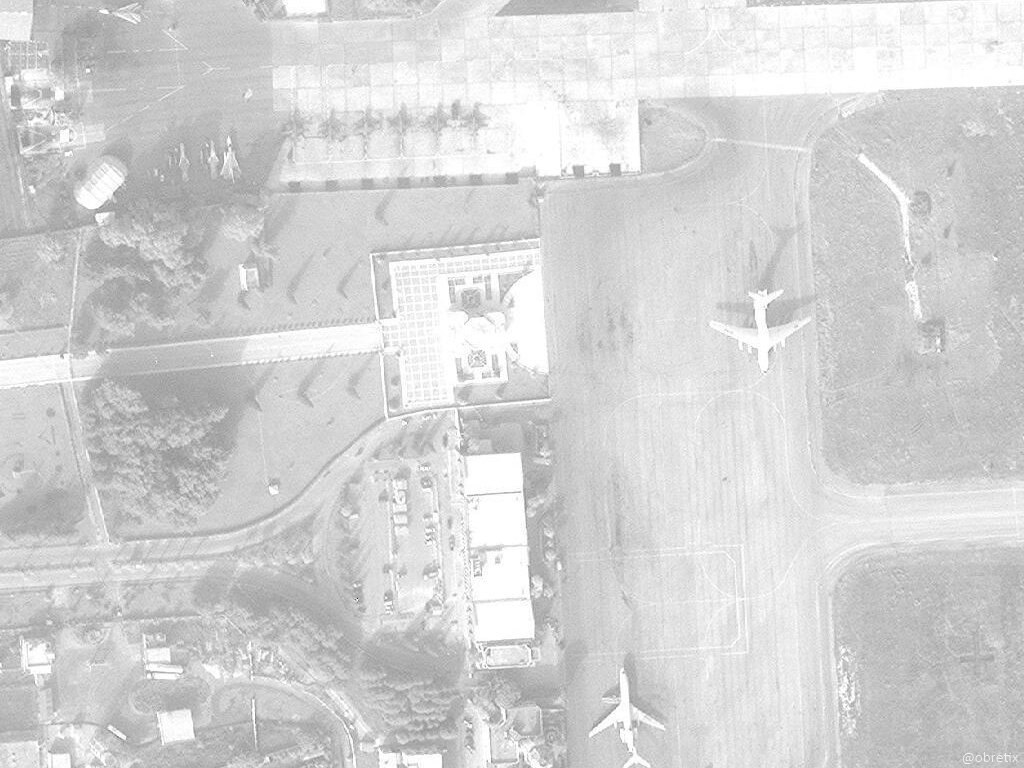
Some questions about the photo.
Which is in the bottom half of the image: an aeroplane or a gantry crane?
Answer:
aeroplane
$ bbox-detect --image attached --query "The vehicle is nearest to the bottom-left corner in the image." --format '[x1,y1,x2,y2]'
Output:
[108,723,126,740]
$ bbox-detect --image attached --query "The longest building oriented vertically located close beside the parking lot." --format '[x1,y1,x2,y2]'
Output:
[456,446,535,643]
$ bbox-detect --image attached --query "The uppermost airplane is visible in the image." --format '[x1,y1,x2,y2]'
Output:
[100,3,145,25]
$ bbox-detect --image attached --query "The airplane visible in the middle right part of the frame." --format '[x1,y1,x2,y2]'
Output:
[710,288,812,372]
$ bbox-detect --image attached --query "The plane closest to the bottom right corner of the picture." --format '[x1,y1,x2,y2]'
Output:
[590,668,667,768]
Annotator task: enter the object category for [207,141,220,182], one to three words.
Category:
airplane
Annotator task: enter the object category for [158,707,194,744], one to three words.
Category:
building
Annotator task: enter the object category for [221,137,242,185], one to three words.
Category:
airplane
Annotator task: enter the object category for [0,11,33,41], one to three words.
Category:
hangar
